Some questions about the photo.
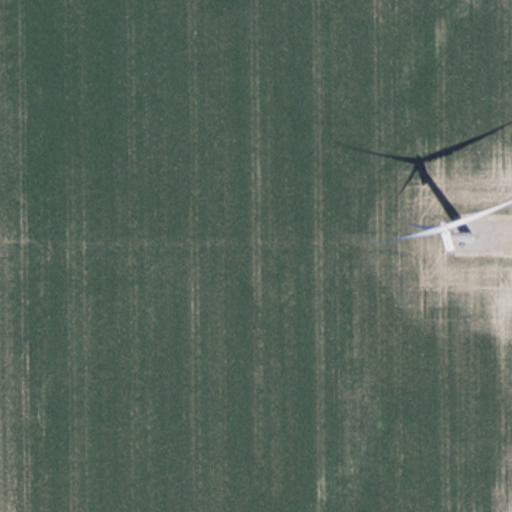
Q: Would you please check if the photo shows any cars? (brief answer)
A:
No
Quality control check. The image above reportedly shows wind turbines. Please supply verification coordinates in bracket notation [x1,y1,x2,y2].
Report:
[372,200,512,250]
